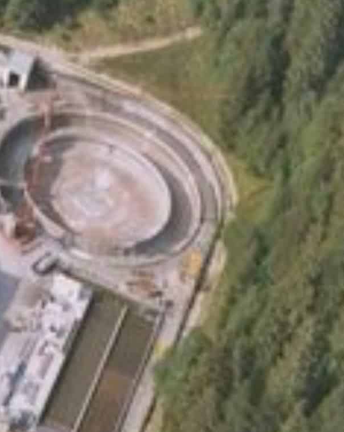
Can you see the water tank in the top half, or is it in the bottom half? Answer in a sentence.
The water tank sits in the bottom half of the picture.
